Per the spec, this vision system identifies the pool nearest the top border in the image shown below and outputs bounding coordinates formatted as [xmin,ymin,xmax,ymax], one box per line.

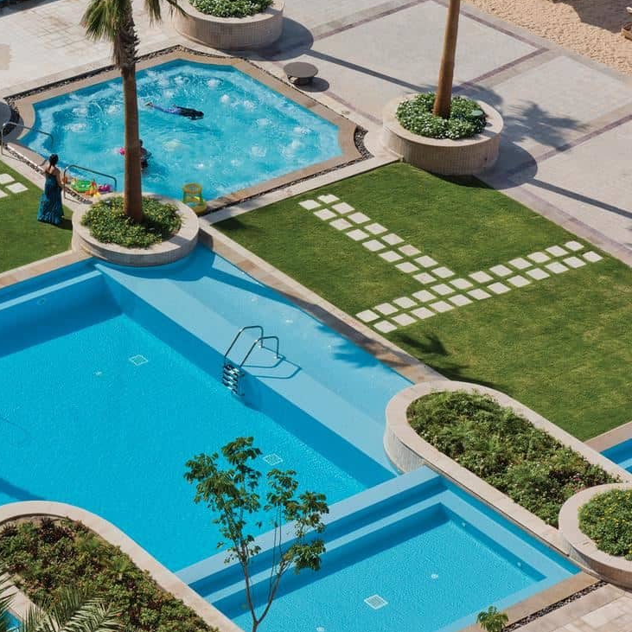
[21,64,339,203]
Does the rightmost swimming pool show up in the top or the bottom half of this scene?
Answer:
bottom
